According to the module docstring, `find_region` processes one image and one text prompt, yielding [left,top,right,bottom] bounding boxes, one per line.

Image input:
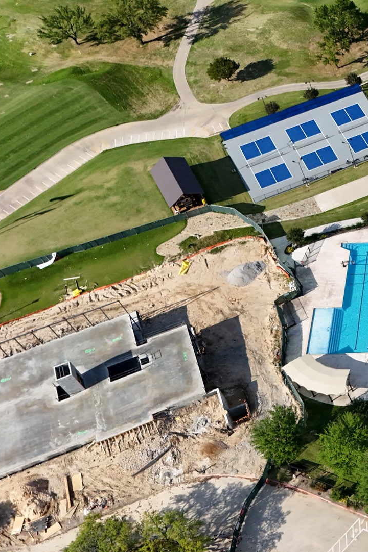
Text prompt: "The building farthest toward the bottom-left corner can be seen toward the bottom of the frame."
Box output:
[0,301,232,484]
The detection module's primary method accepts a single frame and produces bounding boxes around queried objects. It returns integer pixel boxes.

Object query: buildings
[151,156,206,212]
[0,301,232,484]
